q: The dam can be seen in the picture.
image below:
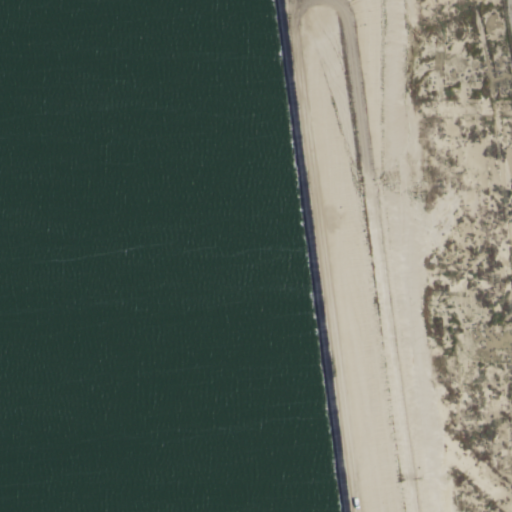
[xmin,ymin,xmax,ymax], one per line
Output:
[276,0,404,512]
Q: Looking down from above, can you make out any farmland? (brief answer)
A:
No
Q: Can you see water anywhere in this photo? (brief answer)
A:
Yes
